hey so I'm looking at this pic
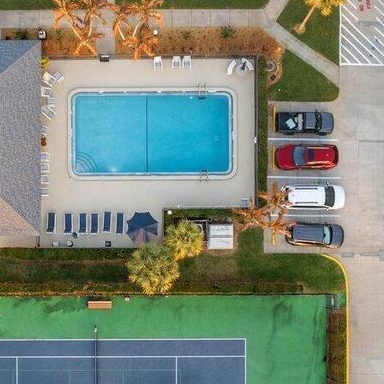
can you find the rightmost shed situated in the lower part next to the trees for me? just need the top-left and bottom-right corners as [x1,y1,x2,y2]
[209,224,235,249]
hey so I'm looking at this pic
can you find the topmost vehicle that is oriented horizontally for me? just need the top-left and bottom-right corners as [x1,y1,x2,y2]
[275,106,335,134]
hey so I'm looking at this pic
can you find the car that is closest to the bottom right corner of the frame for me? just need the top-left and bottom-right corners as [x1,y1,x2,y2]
[285,220,343,249]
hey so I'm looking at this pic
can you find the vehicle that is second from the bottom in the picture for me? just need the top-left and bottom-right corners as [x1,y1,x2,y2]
[282,181,345,211]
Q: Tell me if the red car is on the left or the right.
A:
right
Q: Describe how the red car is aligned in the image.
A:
from left to right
